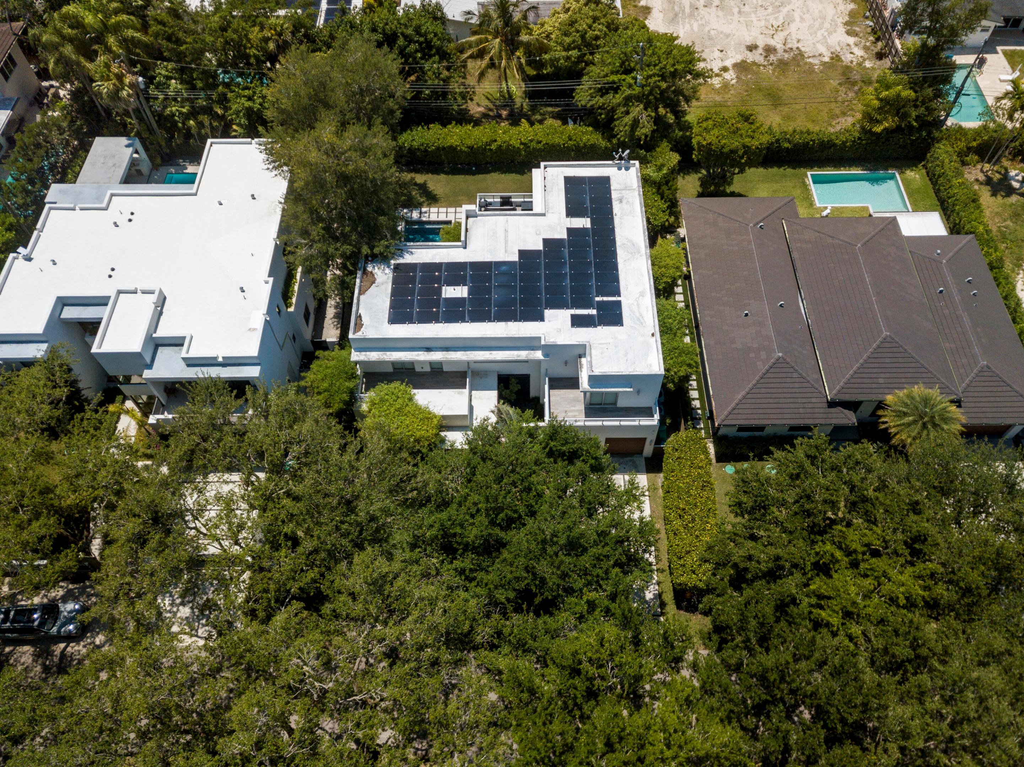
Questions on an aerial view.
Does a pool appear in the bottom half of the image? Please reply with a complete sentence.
No, I see no pool in the bottom half of the image.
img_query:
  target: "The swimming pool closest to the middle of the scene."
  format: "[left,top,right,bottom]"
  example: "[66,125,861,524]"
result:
[398,218,451,243]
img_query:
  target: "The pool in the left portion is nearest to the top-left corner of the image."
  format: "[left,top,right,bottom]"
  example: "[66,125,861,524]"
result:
[0,151,70,210]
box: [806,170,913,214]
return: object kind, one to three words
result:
swimming pool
